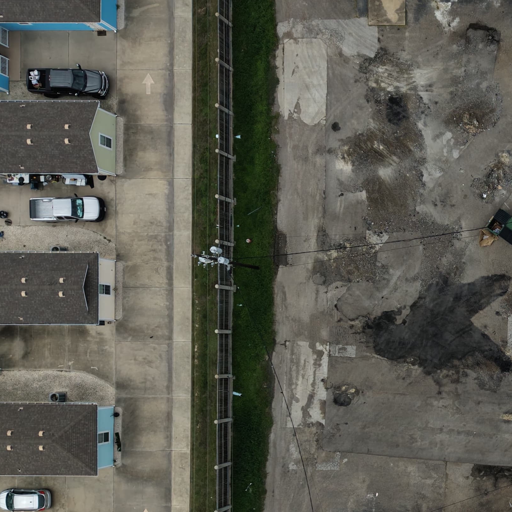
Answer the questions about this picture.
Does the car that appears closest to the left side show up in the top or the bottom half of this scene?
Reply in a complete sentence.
It is in the bottom half that the car that appears closest to the left side appears.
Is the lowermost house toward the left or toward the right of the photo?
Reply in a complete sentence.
The lowermost house is on the left side of the image.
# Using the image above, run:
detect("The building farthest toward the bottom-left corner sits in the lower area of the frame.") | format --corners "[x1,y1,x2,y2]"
[0,399,115,476]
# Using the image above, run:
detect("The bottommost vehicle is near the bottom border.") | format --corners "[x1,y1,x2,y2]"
[0,482,53,512]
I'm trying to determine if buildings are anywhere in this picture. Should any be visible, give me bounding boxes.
[0,399,115,476]
[0,0,117,94]
[0,249,117,326]
[0,98,117,175]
